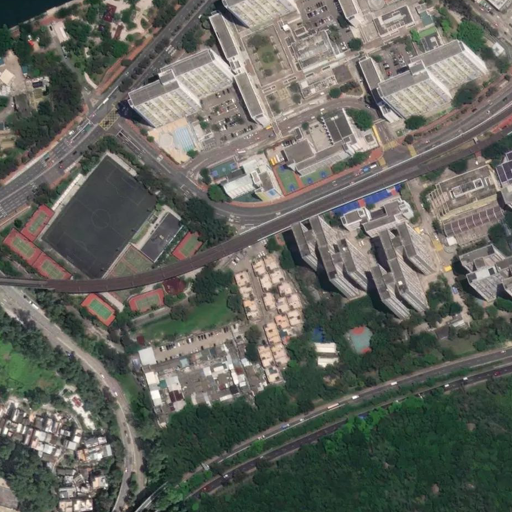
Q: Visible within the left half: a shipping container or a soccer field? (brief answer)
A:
soccer field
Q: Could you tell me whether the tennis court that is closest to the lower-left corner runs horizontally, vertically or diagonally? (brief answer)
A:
diagonally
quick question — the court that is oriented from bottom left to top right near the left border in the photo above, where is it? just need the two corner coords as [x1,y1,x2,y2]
[20,203,54,241]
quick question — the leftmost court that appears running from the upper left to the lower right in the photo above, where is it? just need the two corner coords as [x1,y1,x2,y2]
[2,229,40,264]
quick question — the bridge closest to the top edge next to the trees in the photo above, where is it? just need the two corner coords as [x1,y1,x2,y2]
[0,104,512,293]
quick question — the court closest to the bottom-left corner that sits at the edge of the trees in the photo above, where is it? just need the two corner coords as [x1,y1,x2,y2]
[80,293,116,326]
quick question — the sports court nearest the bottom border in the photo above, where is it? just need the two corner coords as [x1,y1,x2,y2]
[350,326,372,354]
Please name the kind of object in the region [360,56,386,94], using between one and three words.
building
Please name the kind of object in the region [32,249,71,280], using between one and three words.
tennis court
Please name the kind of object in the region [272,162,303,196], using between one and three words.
basketball court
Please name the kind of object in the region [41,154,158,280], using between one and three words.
soccer field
